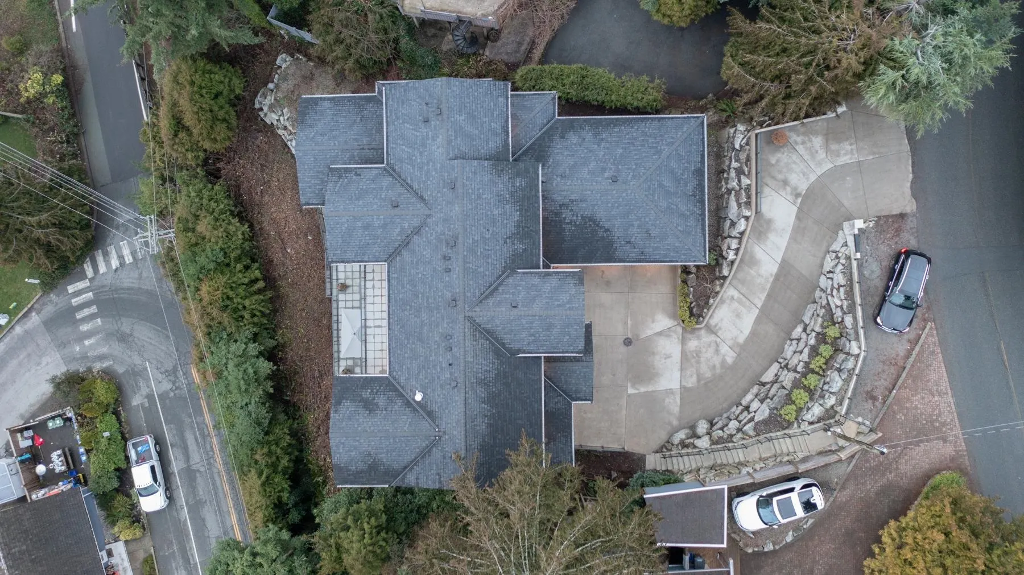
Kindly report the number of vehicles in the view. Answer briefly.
3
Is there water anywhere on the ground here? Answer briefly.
No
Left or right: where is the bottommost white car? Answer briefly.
right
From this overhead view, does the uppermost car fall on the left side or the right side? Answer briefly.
right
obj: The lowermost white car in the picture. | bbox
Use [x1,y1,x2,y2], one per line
[731,475,825,531]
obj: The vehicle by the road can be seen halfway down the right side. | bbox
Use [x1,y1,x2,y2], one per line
[872,248,934,335]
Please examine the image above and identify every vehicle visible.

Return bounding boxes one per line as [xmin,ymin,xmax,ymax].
[872,248,934,335]
[731,475,825,531]
[123,432,172,510]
